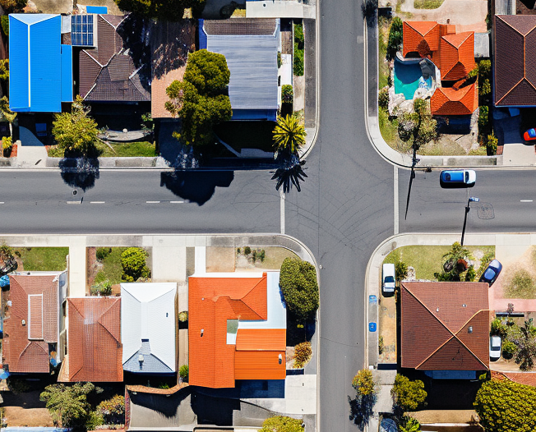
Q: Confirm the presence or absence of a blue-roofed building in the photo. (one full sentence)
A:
Yes, the frame does contain a blue-roofed building.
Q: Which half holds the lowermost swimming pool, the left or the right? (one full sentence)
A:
It is on the right.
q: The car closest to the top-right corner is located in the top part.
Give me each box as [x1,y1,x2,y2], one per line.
[521,126,536,142]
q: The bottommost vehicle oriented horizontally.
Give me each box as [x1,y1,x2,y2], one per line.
[440,169,475,186]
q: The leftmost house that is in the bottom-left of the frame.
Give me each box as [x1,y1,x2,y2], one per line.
[1,275,63,373]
